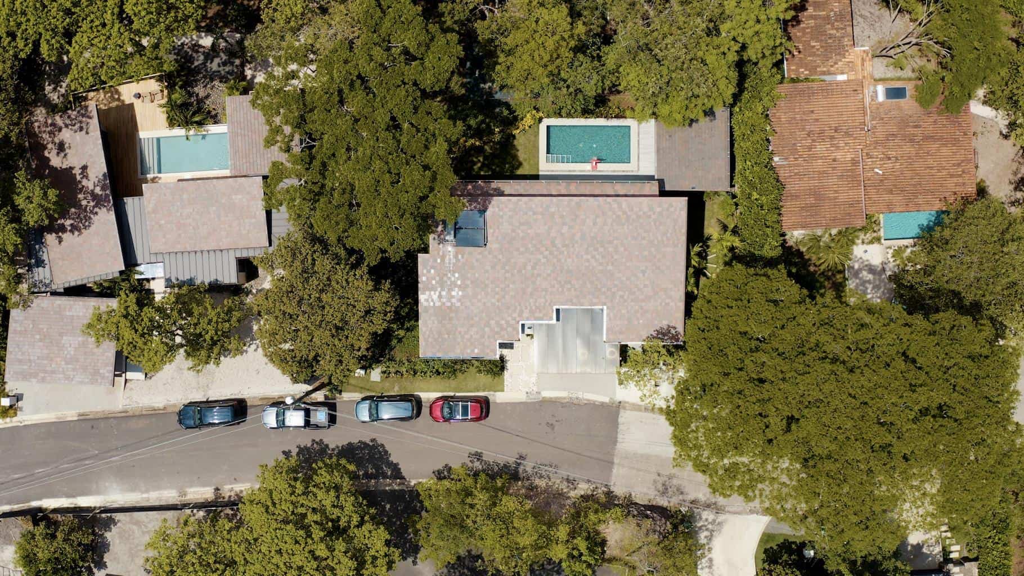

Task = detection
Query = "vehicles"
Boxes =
[175,397,239,427]
[353,398,417,427]
[429,398,485,427]
[260,400,331,429]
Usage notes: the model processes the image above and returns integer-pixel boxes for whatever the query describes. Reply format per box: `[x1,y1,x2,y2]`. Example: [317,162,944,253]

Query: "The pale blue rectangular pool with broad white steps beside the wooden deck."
[137,125,230,183]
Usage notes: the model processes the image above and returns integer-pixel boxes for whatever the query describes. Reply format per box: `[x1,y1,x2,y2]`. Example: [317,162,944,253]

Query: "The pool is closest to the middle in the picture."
[539,118,638,172]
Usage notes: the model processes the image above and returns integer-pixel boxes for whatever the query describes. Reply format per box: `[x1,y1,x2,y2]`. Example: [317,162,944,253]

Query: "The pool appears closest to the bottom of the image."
[876,204,956,245]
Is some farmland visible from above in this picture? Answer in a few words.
No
